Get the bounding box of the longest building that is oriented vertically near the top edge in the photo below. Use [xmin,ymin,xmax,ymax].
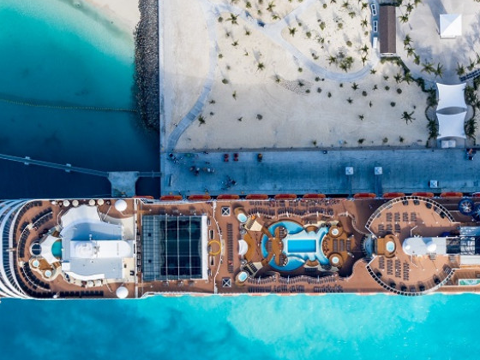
[379,4,397,56]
